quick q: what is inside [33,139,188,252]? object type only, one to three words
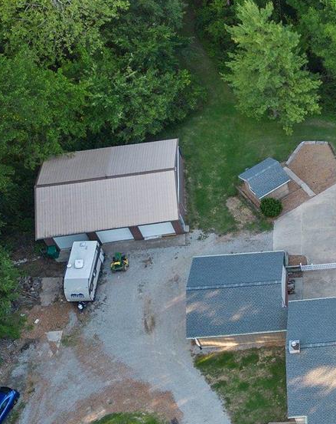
barn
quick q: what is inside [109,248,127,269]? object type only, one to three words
work vehicle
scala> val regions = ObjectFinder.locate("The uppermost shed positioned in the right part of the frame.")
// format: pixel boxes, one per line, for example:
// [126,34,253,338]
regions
[240,158,292,205]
